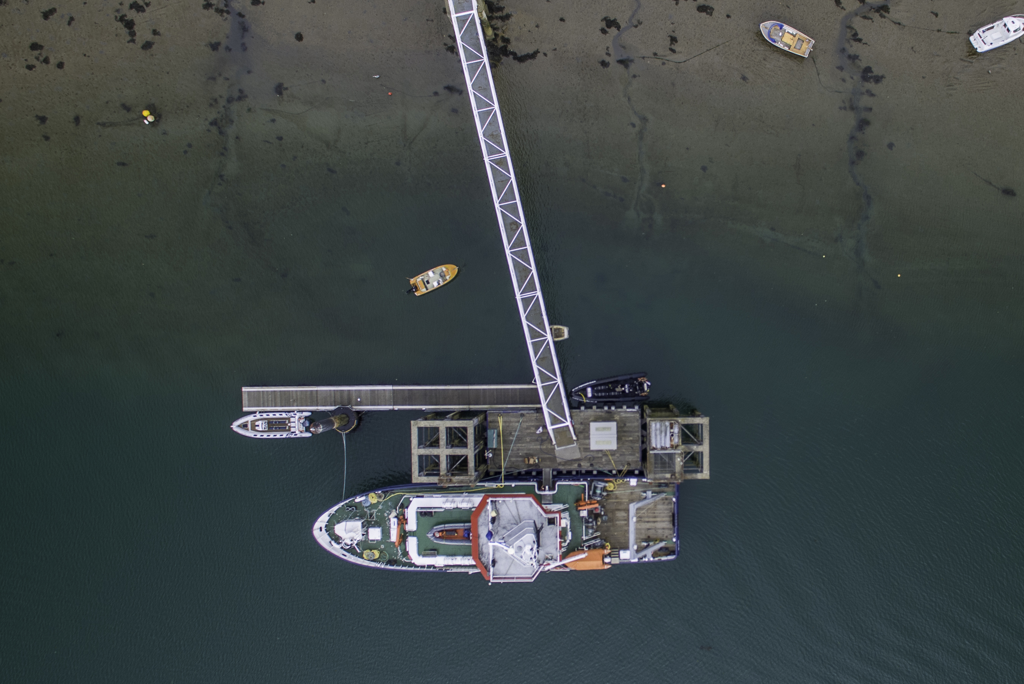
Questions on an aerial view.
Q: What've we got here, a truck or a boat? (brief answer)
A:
boat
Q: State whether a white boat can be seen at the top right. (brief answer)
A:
Yes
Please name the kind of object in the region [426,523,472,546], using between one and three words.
boat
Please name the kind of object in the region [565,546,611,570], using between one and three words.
boat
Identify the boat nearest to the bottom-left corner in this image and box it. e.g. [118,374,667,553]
[230,410,311,439]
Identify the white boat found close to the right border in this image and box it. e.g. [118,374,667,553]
[968,14,1024,53]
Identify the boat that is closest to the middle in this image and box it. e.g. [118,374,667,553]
[549,325,569,341]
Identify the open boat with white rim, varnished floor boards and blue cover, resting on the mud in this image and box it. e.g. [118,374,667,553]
[760,21,814,59]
